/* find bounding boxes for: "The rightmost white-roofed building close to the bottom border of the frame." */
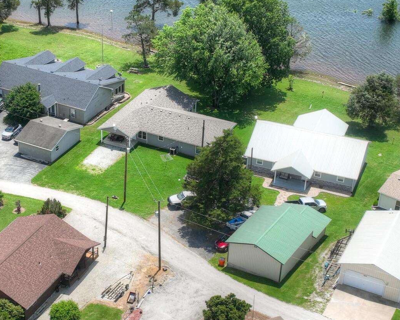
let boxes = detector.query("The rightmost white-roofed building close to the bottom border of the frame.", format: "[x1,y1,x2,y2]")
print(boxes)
[335,208,400,304]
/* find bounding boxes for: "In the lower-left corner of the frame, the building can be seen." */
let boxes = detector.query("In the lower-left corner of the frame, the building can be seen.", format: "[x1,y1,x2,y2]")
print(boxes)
[0,213,108,320]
